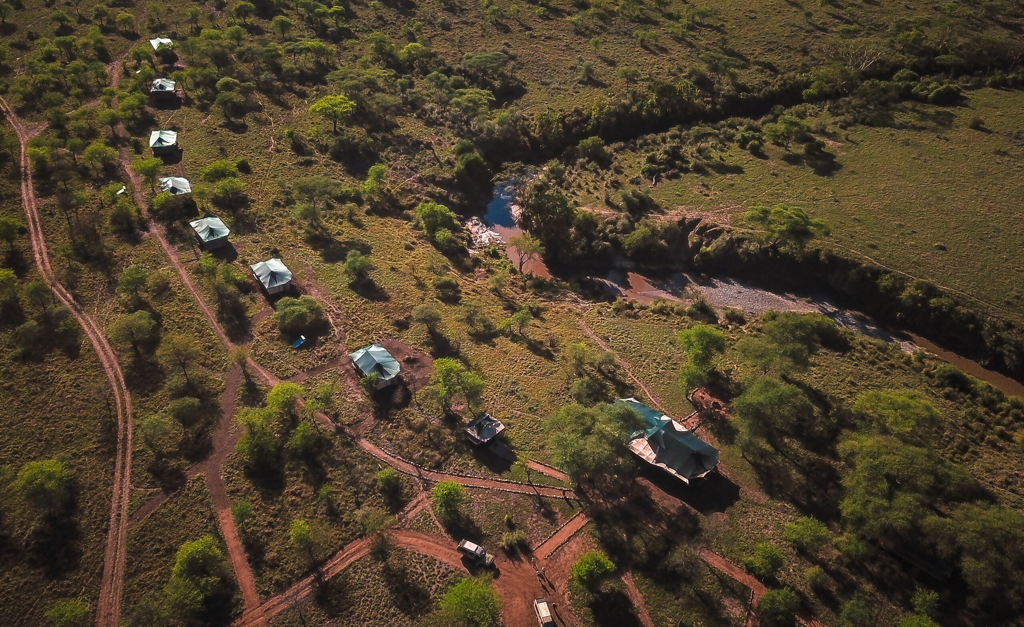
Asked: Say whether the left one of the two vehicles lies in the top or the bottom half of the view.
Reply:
bottom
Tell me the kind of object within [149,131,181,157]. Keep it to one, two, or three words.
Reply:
tent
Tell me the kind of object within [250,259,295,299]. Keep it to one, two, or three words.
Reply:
tent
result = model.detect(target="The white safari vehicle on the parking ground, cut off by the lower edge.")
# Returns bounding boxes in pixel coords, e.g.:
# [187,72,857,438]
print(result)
[534,598,555,627]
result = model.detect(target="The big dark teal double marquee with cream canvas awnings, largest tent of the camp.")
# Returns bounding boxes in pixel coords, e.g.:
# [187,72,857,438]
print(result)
[608,397,722,490]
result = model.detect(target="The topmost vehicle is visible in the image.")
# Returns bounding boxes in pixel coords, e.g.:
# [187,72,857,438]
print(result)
[459,539,495,571]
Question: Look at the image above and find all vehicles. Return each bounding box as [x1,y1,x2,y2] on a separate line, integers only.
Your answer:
[534,598,555,627]
[459,539,495,571]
